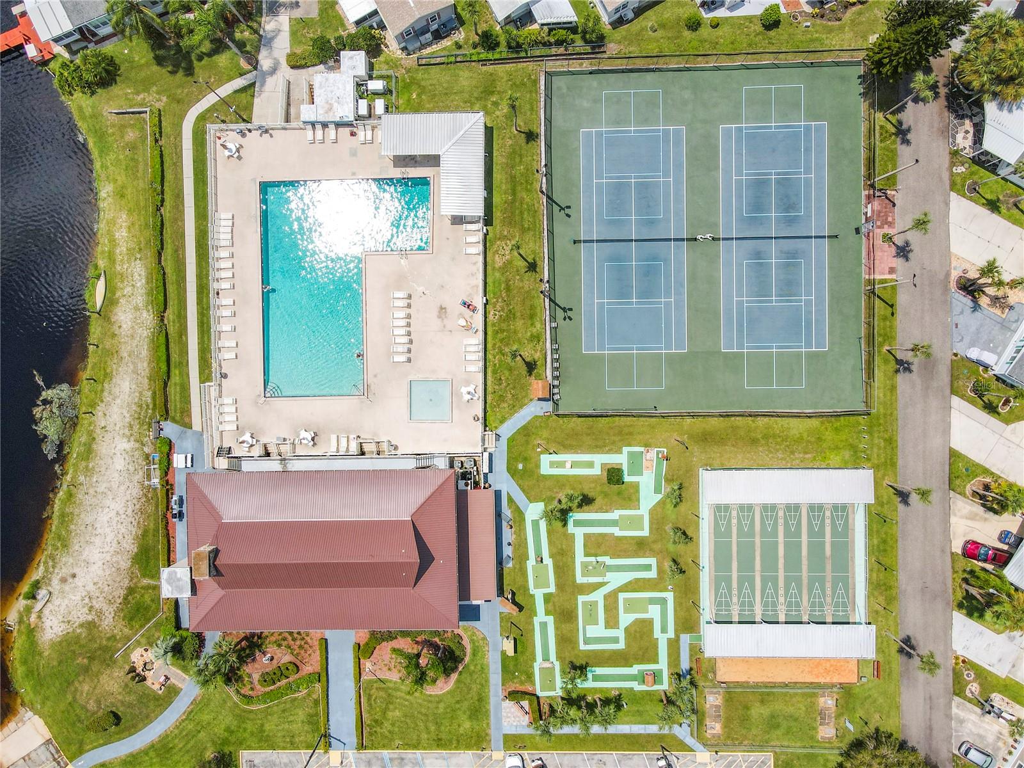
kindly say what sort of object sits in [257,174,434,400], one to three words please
swimming pool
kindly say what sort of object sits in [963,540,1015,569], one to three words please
truck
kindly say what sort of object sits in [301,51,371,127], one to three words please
building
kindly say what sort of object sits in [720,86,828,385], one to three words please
tennis court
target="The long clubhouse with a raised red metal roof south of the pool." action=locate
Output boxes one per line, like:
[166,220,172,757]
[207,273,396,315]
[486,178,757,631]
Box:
[186,468,497,633]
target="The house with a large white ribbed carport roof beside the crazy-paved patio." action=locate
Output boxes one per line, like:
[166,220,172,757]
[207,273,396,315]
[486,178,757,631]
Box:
[968,95,1024,195]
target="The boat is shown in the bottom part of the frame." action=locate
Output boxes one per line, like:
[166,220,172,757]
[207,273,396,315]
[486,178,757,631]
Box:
[31,588,51,613]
